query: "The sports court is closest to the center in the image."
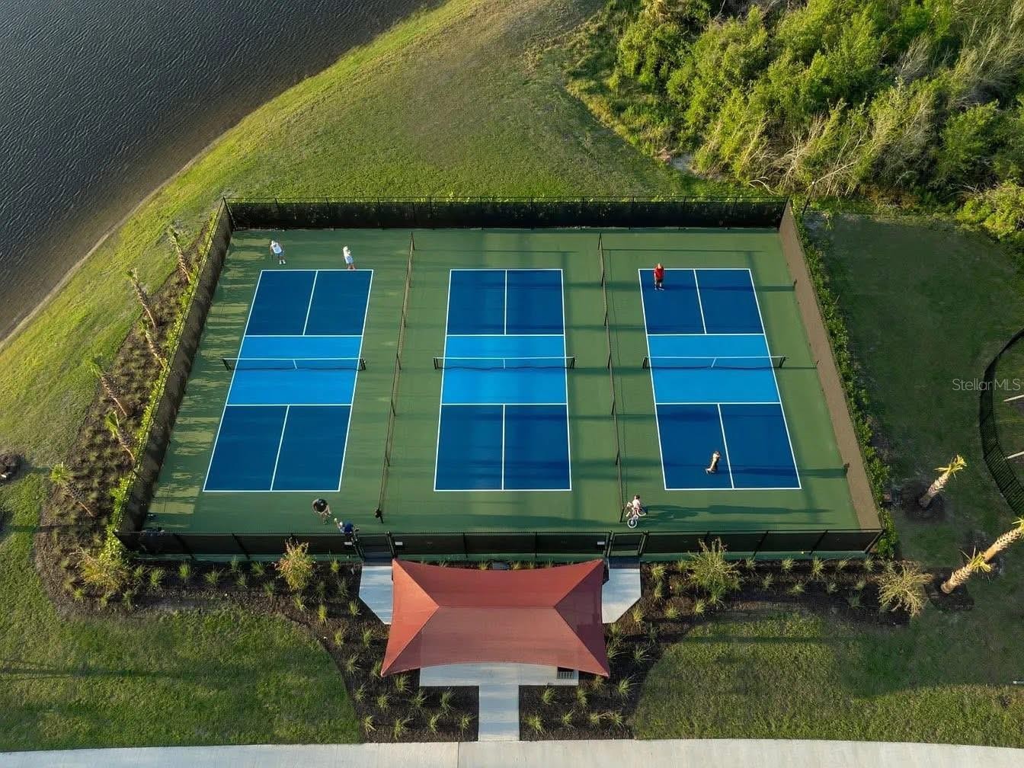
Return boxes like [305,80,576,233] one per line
[435,269,571,490]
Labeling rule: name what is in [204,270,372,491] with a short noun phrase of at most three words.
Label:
sports court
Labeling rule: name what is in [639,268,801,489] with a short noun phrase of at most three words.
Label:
sports court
